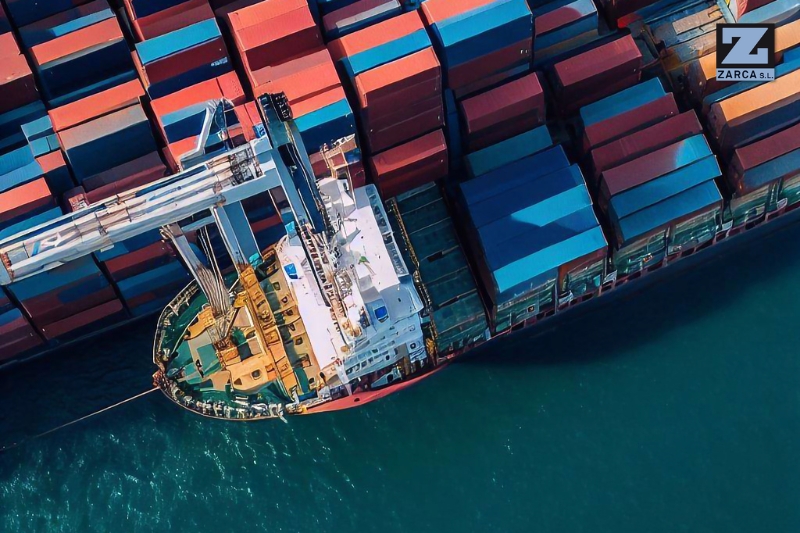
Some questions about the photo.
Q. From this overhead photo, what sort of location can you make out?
port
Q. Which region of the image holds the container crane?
left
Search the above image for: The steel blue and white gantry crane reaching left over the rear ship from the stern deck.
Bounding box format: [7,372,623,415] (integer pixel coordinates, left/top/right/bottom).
[0,88,366,352]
